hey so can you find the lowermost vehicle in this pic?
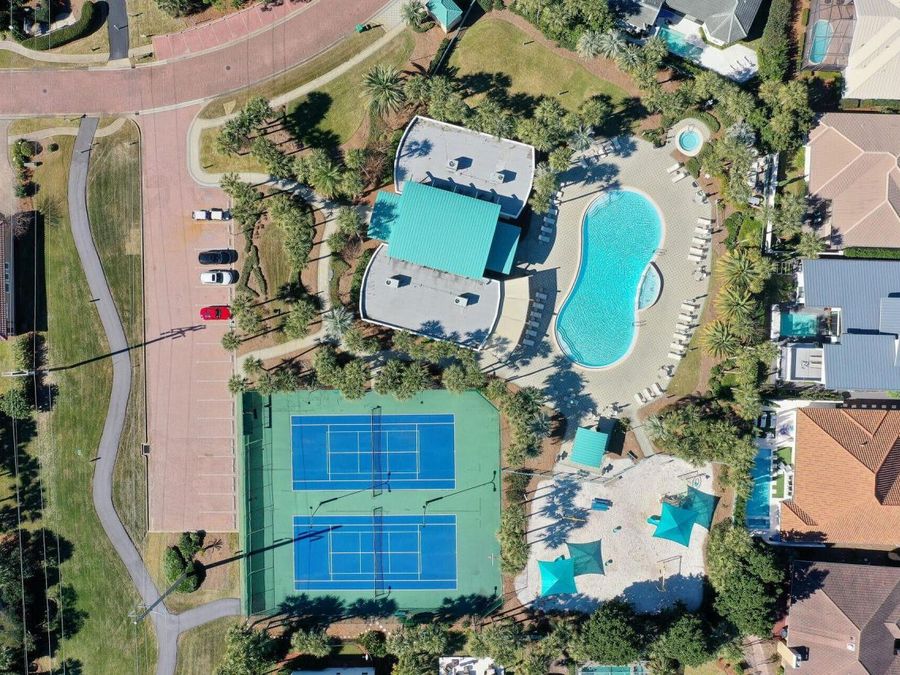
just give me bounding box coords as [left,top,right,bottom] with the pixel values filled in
[198,305,229,321]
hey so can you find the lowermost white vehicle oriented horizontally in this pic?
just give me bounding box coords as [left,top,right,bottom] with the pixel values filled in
[197,269,232,285]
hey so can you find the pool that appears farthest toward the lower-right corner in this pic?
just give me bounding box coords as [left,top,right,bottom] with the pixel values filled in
[744,447,773,531]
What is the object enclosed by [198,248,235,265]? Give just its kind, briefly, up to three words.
car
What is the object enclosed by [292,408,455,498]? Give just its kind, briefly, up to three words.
tennis court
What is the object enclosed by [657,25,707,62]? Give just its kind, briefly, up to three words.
swimming pool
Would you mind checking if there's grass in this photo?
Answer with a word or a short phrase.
Yes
